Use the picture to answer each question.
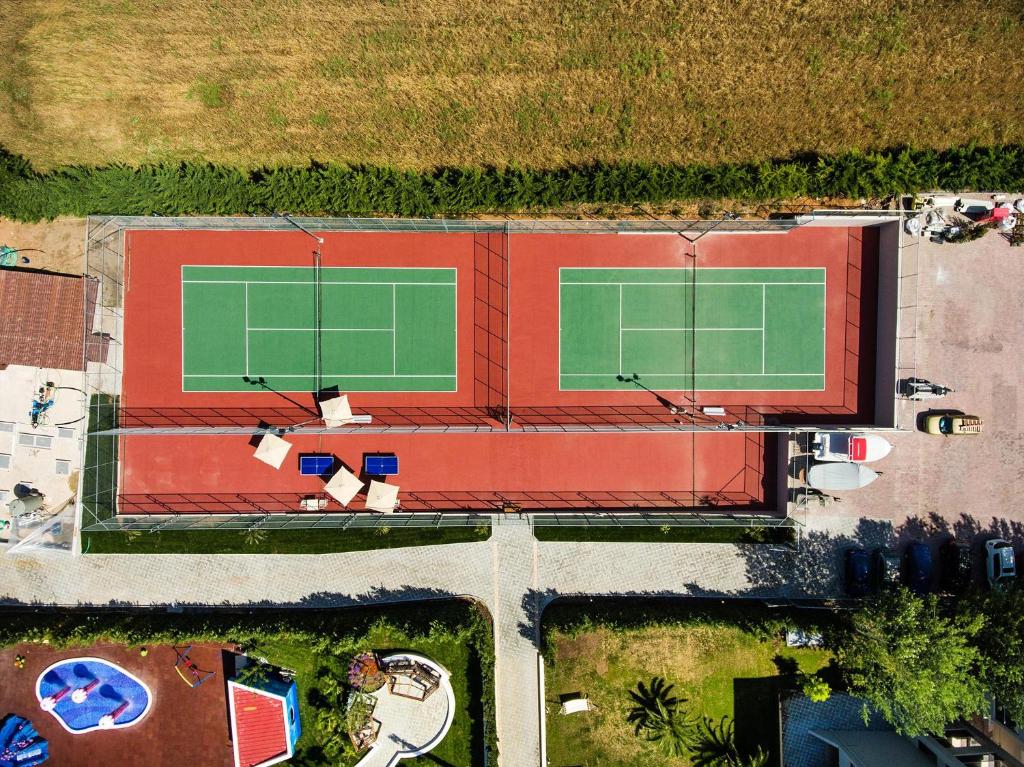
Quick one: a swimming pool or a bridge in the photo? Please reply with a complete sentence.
The one in the frame is a swimming pool.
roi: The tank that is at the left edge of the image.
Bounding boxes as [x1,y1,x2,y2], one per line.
[9,493,50,515]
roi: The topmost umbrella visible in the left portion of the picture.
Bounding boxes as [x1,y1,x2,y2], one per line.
[319,394,353,429]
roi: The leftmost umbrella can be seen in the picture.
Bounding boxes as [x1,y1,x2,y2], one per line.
[253,433,293,470]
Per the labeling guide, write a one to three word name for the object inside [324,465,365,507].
umbrella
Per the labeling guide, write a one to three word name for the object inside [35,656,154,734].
swimming pool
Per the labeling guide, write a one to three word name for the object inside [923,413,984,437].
car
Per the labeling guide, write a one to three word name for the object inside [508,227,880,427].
tennis court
